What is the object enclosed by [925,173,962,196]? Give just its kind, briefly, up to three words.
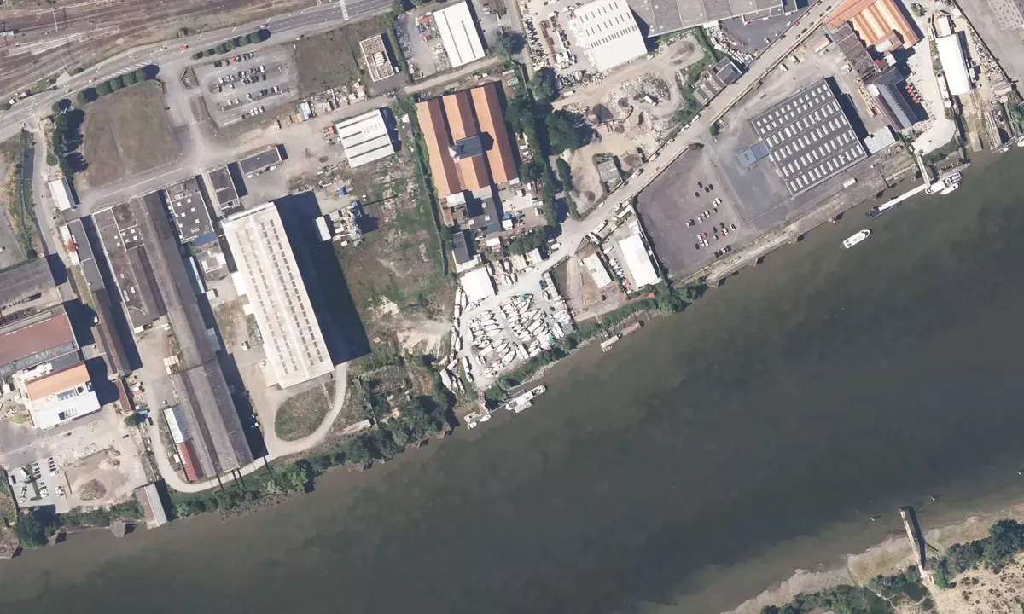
boat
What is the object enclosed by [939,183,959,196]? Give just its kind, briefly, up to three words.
boat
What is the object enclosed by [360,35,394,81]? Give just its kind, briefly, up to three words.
building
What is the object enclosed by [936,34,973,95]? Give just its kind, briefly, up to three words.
hangar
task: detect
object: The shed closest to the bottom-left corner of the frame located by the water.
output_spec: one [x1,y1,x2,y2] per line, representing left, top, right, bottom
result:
[135,483,167,529]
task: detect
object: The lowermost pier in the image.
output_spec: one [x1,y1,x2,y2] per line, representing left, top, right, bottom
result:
[900,509,926,571]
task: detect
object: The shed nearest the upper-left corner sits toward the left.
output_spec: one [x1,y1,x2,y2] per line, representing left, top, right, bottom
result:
[49,178,77,211]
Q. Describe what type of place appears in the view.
port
